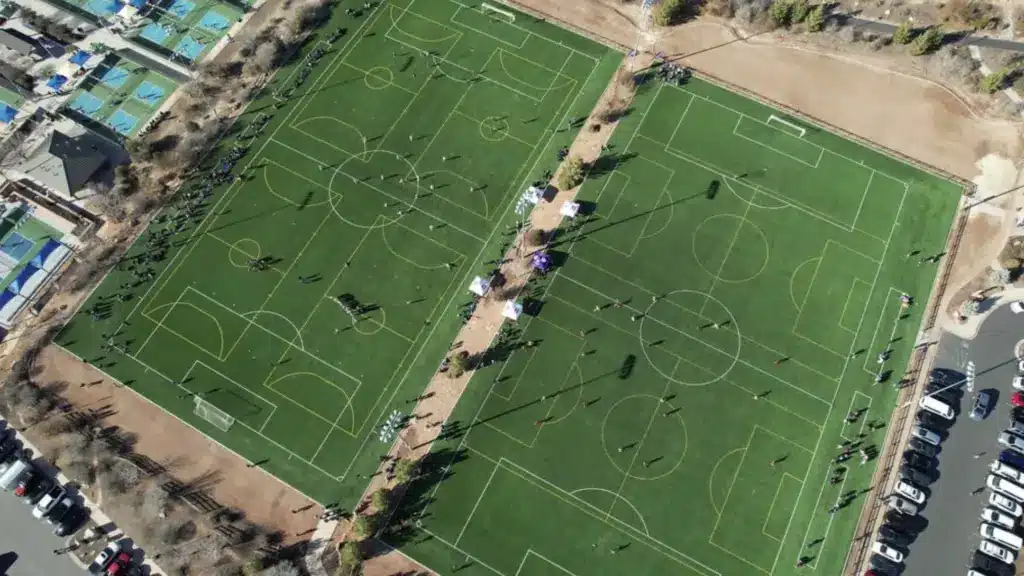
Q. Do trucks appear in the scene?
Yes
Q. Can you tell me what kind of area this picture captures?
sports ground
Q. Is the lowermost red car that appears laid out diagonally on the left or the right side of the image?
left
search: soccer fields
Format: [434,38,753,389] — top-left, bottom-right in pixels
[52,0,627,515]
[375,57,965,576]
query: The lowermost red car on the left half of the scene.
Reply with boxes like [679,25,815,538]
[105,551,133,576]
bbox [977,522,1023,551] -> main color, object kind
white van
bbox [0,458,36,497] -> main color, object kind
white truck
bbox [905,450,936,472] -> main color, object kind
black car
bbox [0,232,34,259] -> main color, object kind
blue sports court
